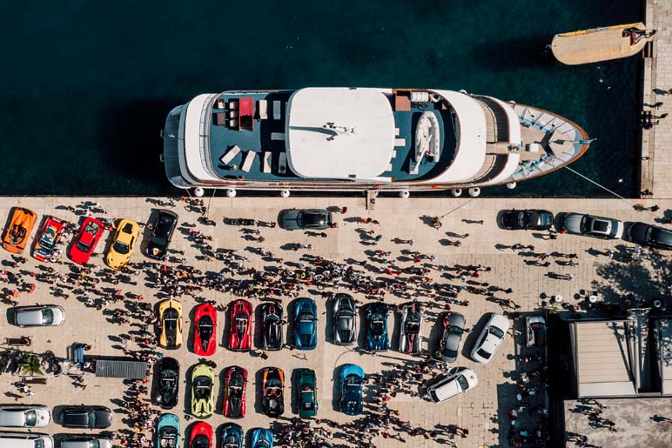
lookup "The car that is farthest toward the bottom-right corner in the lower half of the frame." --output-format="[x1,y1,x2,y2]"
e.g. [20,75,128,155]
[524,310,550,352]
